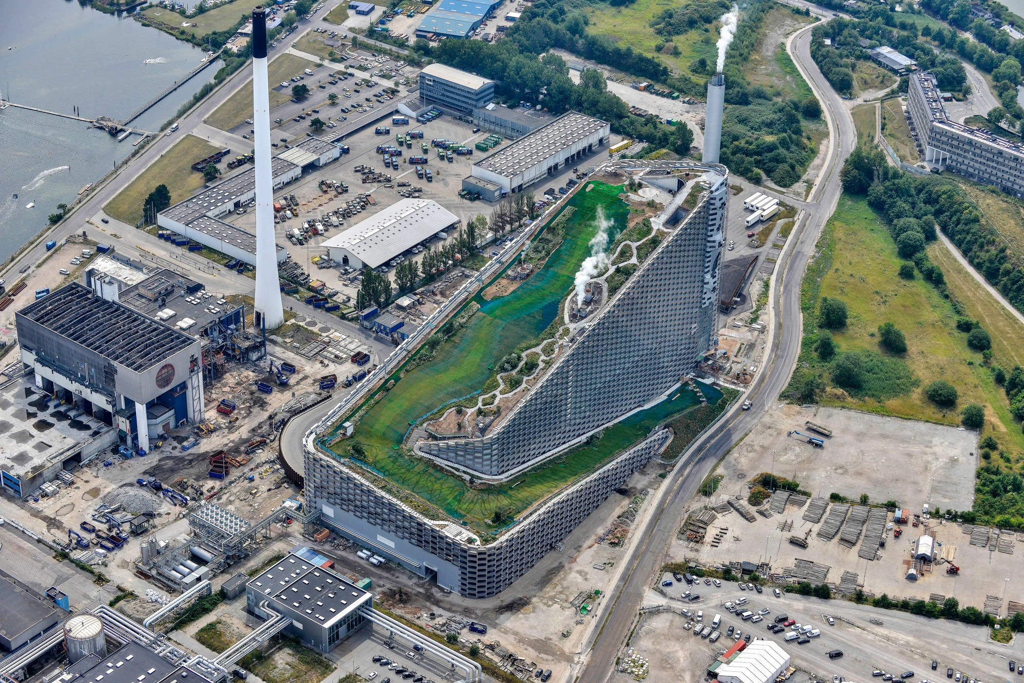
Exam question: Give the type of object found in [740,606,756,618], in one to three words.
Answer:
vehicle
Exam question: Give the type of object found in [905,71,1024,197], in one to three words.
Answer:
building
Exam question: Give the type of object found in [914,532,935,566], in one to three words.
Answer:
tent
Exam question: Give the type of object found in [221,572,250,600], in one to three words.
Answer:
shed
